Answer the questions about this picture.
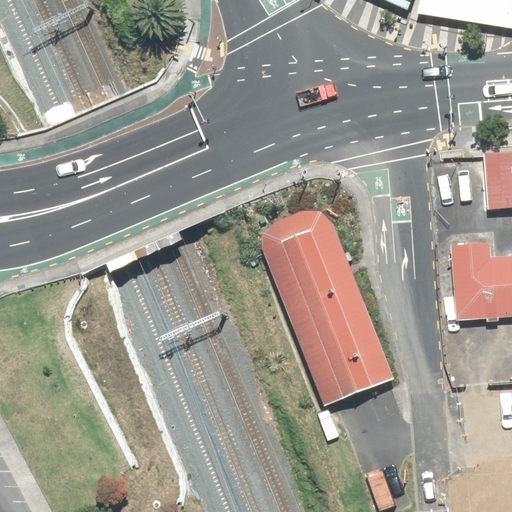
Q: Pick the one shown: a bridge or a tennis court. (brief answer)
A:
bridge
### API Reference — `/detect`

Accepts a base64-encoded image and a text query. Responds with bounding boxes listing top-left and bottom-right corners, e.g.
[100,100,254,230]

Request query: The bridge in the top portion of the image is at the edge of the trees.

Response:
[16,66,214,276]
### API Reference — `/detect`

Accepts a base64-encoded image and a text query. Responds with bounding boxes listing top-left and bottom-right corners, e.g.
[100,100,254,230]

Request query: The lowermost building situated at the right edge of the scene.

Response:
[450,242,512,320]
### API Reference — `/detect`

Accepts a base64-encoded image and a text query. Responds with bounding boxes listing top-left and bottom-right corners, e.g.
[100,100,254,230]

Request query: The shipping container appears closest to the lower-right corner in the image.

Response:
[367,468,398,512]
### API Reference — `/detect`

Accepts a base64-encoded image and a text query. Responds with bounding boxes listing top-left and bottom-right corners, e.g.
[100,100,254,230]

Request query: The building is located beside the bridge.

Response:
[262,211,394,406]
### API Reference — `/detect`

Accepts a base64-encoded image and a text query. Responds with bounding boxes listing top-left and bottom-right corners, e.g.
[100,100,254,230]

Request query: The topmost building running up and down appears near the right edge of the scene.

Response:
[484,150,512,210]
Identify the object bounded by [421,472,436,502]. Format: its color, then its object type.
white car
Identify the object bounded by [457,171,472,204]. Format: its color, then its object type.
white vehicle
